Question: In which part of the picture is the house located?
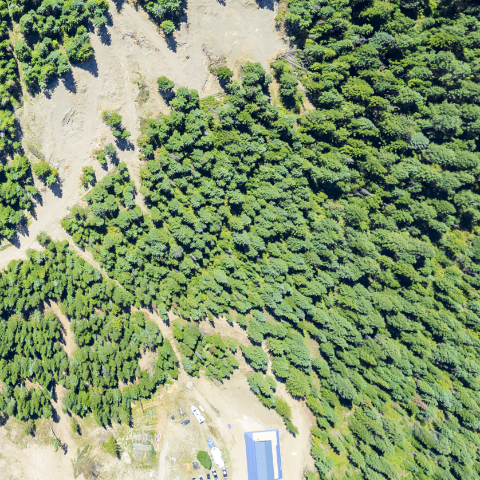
bottom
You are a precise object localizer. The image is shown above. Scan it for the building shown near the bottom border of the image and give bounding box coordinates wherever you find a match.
[244,427,283,480]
